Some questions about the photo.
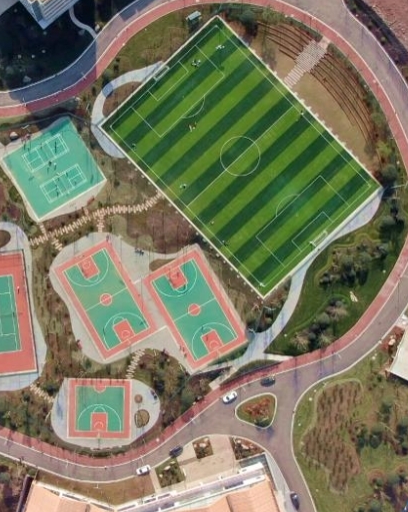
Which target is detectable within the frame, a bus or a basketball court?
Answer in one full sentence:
I can see a basketball court in this picture.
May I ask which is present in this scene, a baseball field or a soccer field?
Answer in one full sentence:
Visible in the photo is a soccer field.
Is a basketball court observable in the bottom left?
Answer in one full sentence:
Yes, in the bottom left there is a basketball court.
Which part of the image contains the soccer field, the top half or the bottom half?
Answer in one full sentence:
The soccer field is in the top half of the image.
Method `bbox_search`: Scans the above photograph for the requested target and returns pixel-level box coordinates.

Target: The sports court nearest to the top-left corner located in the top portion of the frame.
[2,116,106,221]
